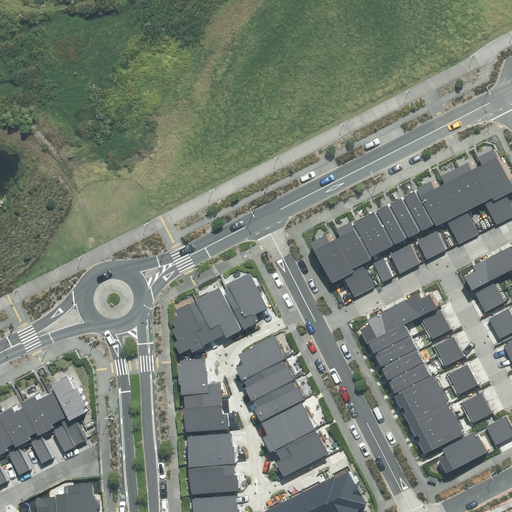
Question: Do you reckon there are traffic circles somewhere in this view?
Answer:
Yes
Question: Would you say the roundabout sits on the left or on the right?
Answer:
left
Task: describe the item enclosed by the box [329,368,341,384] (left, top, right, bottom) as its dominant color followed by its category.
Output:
white vehicle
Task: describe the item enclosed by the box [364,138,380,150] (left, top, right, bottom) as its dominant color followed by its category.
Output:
white vehicle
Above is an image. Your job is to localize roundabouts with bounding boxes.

[39,257,174,356]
